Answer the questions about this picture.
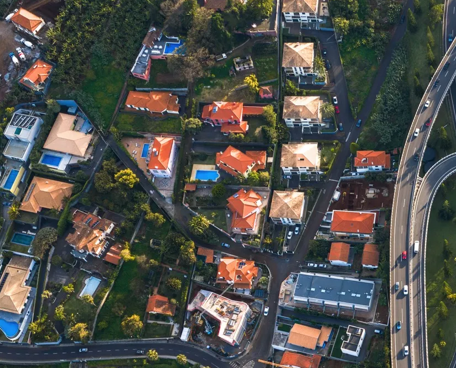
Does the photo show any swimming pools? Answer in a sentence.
Yes, the frame does contain a swimming pool.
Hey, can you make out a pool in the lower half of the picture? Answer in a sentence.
Yes, looking in the lower half of the picture, one can make out a pool.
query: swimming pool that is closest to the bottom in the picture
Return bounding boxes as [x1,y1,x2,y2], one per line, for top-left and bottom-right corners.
[0,317,19,338]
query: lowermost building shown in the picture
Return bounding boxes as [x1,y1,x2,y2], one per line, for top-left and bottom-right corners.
[280,349,322,368]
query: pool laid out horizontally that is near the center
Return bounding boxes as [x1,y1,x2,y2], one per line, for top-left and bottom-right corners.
[193,169,220,182]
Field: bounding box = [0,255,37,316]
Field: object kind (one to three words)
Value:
house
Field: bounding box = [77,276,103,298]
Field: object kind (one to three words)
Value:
swimming pool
